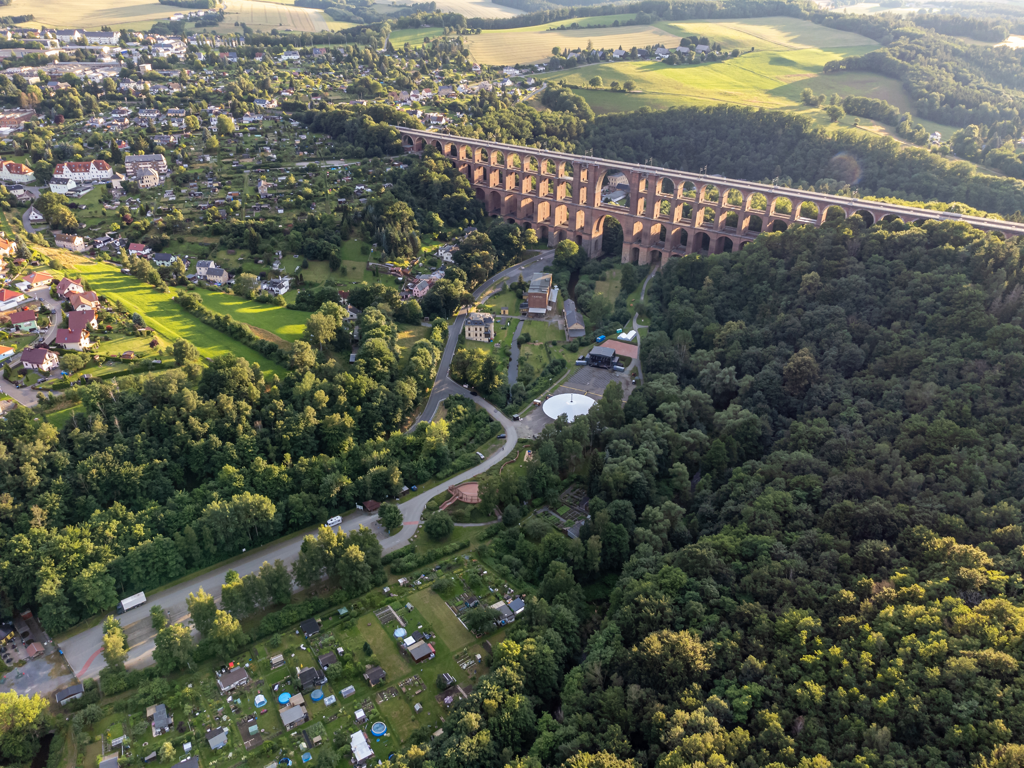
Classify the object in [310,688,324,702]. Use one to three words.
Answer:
swimming pool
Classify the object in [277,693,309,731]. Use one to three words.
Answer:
house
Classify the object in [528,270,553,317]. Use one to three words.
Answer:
building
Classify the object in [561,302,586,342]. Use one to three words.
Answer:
barn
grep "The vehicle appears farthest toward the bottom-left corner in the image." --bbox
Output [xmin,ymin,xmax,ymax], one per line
[115,591,145,612]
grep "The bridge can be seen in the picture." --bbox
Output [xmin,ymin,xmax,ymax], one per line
[379,125,1024,267]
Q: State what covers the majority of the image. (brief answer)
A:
trees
